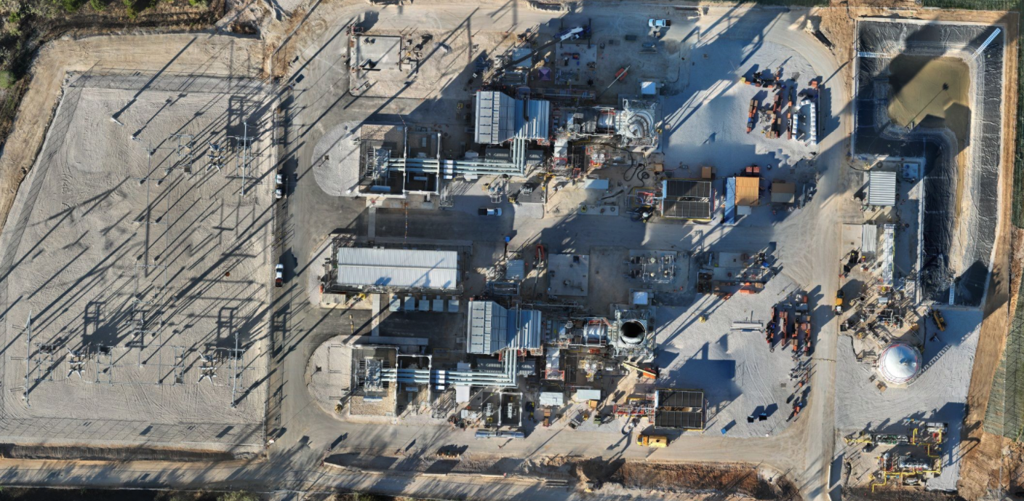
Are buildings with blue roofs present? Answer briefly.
Yes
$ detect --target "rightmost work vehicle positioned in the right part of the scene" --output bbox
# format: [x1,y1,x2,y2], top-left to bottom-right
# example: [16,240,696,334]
[928,303,946,331]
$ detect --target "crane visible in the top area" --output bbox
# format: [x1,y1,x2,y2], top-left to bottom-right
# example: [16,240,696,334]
[488,15,592,83]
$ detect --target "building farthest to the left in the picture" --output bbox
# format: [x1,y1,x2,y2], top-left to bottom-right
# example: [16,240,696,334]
[337,245,459,290]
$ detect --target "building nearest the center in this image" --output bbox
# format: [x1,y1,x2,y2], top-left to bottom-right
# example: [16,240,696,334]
[506,259,524,279]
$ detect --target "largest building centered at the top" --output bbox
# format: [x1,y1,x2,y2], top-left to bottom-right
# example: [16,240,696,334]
[475,91,549,146]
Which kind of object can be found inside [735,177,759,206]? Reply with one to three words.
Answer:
building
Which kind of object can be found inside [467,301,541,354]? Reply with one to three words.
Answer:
house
